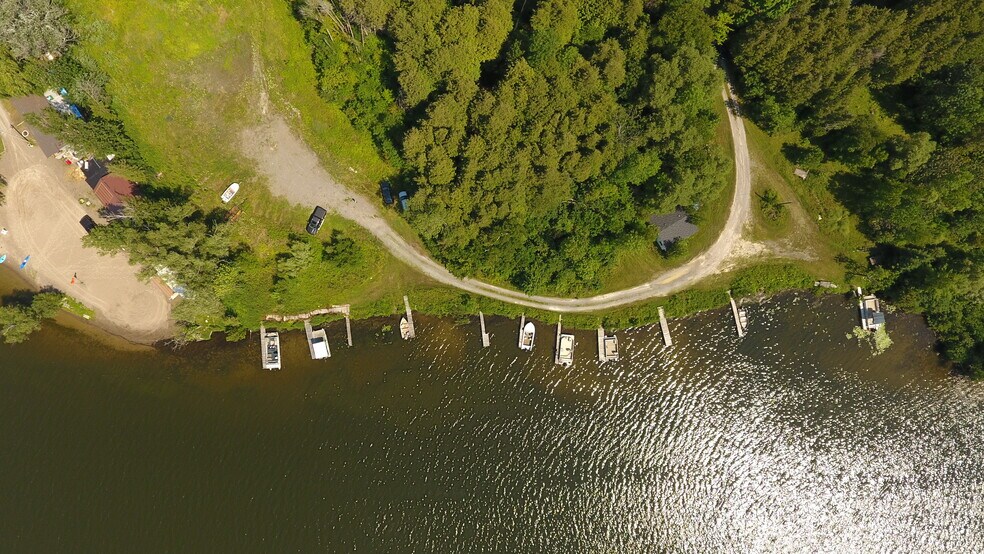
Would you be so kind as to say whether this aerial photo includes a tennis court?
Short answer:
No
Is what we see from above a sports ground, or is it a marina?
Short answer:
marina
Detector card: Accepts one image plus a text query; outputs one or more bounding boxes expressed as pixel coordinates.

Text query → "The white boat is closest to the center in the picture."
[522,322,534,353]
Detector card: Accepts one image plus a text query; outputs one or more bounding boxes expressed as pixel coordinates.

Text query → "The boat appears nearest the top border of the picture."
[219,181,238,204]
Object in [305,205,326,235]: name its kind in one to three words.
truck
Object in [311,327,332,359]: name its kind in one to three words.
boat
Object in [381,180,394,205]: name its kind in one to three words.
vehicle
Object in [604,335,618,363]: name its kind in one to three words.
boat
